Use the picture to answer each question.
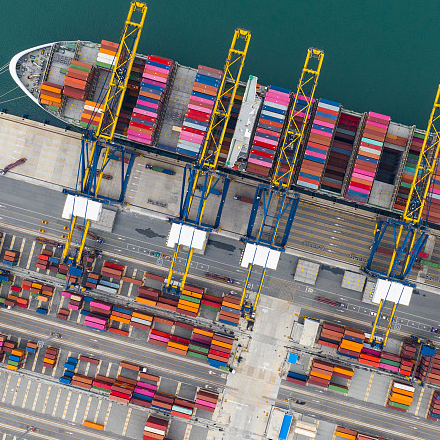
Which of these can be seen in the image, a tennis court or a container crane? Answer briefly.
container crane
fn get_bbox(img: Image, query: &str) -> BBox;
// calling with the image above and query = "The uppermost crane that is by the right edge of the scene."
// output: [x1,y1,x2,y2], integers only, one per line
[362,80,440,356]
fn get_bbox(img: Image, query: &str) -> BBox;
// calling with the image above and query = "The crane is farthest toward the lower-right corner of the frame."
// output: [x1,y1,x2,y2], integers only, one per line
[403,336,437,385]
